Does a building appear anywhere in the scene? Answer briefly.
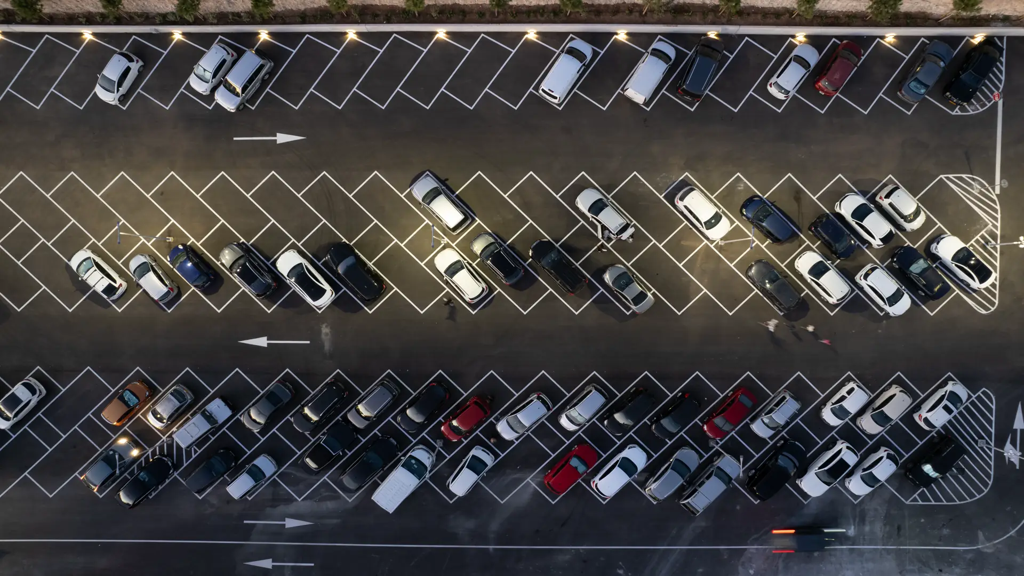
No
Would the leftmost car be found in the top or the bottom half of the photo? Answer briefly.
bottom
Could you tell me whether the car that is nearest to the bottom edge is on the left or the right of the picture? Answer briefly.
right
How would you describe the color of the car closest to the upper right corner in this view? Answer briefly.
black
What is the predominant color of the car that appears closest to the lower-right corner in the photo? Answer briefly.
black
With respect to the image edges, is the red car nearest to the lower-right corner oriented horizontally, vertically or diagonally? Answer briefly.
diagonally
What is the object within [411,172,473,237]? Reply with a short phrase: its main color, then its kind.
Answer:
white car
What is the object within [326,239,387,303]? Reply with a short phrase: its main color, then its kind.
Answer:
black car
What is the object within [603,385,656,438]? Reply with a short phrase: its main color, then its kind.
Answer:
black car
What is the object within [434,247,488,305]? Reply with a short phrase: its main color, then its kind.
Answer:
white car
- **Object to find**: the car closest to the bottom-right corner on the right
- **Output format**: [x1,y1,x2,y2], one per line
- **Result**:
[903,434,975,492]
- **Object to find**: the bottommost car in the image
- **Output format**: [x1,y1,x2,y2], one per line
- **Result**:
[778,524,837,558]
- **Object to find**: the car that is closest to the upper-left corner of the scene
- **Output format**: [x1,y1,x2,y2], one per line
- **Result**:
[98,50,143,104]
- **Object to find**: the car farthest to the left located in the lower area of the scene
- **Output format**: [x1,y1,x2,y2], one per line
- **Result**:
[0,377,49,430]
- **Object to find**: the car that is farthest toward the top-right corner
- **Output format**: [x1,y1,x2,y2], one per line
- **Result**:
[944,38,1004,108]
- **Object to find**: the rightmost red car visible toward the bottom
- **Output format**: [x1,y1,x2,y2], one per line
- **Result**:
[701,385,760,441]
